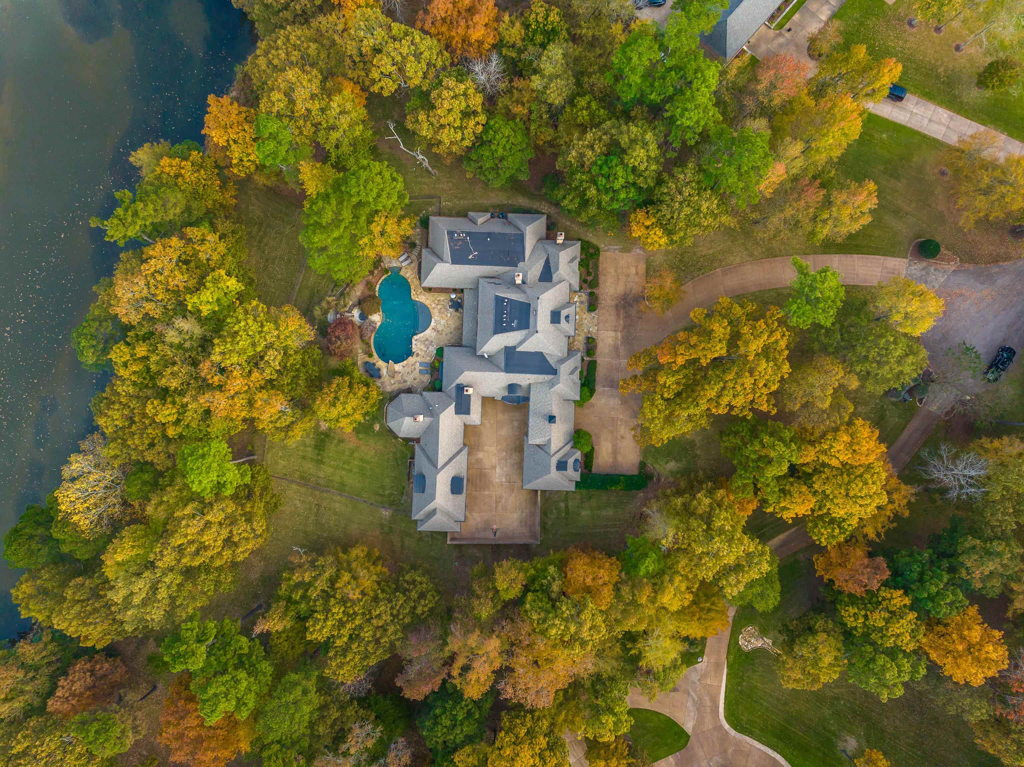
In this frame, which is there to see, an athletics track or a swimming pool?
swimming pool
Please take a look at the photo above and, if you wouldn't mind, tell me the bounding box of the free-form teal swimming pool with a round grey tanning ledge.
[373,273,432,364]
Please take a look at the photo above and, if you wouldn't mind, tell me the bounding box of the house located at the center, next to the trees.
[386,212,581,532]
